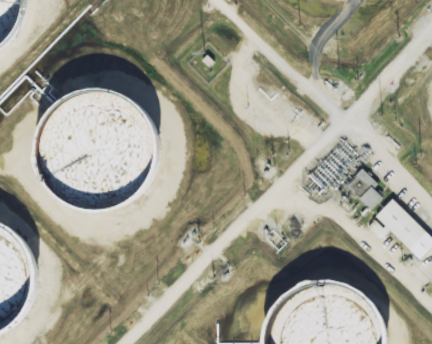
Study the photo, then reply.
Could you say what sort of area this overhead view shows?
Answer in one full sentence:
It's an industrial area.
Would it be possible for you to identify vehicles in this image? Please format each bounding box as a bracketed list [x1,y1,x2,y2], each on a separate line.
[362,242,370,250]
[386,172,394,180]
[391,243,400,252]
[423,258,432,266]
[409,200,418,208]
[399,190,408,198]
[373,162,382,170]
[384,236,392,246]
[386,264,394,272]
